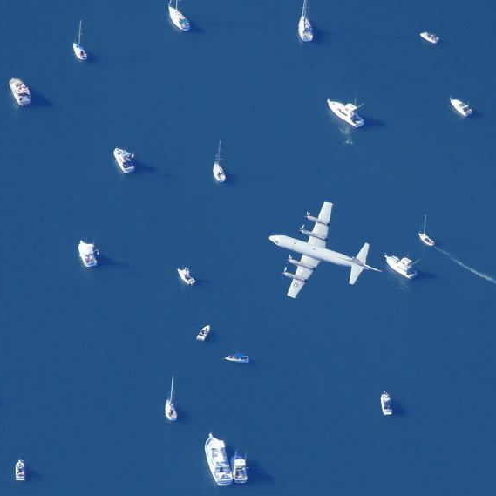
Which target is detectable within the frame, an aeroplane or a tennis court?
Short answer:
aeroplane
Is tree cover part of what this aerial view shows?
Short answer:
No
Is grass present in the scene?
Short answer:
No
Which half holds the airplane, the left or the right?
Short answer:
right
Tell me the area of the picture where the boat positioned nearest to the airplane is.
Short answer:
right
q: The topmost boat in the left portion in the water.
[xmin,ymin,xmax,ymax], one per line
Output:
[169,0,191,32]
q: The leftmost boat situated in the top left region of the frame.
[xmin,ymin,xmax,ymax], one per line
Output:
[10,77,32,107]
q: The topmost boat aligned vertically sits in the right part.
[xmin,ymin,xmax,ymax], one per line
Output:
[299,0,313,42]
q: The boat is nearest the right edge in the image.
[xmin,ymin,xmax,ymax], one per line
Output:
[450,99,472,118]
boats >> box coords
[226,354,251,363]
[299,0,313,42]
[450,99,472,118]
[169,0,191,32]
[10,77,32,107]
[114,148,136,175]
[178,268,196,285]
[196,326,211,342]
[165,376,178,421]
[79,239,100,268]
[206,434,233,488]
[15,460,25,483]
[420,34,441,44]
[326,96,366,129]
[382,393,393,417]
[385,254,418,280]
[74,36,88,60]
[227,453,253,486]
[419,217,436,246]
